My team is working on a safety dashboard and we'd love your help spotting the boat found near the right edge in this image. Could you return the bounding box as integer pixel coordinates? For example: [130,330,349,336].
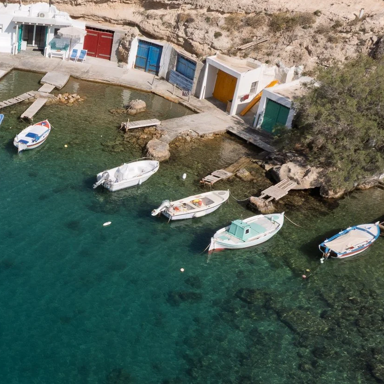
[320,215,382,264]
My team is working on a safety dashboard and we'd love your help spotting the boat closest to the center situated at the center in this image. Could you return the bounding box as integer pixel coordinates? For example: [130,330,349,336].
[151,186,229,225]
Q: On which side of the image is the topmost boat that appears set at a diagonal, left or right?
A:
left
